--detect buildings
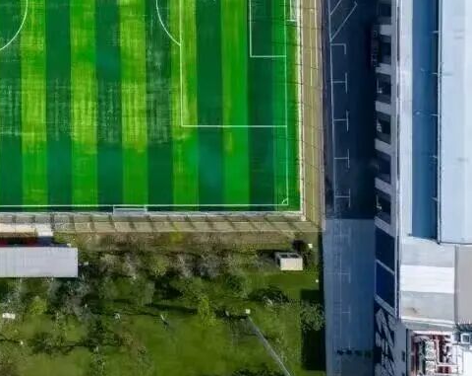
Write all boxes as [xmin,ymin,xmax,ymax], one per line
[272,248,303,269]
[0,241,78,277]
[372,0,472,323]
